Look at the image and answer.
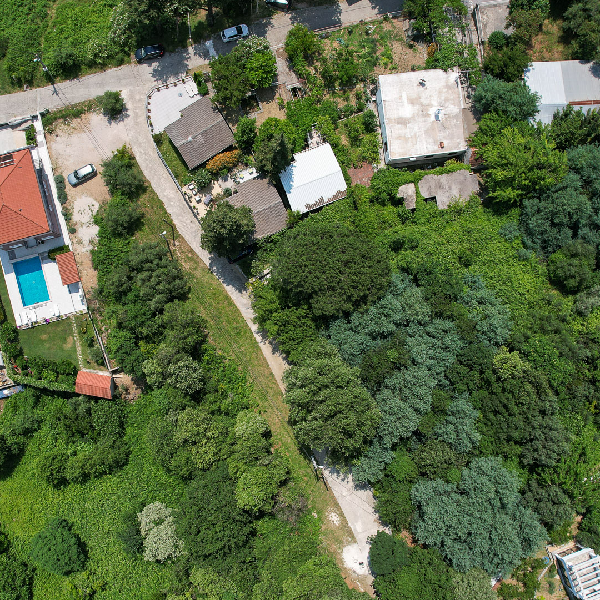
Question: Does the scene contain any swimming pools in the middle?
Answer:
No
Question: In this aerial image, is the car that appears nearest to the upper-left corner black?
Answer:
Yes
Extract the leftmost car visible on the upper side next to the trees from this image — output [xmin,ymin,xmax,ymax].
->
[66,162,100,188]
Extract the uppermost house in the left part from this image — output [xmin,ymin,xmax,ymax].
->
[165,95,235,169]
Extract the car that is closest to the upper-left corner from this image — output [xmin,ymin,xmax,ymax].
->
[133,42,167,64]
